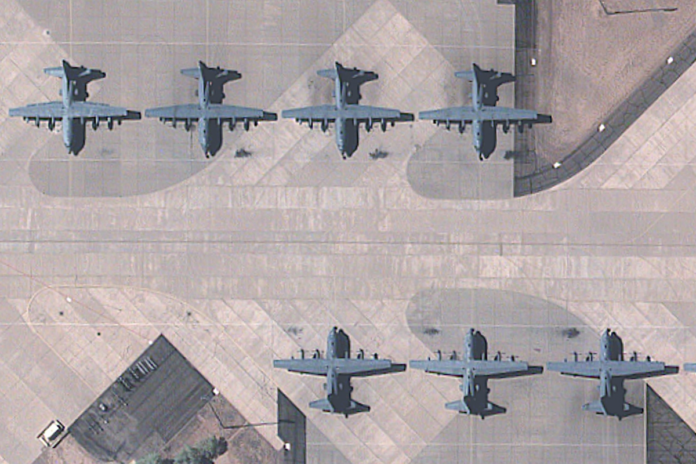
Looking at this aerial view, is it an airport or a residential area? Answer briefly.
airport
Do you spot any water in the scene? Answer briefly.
No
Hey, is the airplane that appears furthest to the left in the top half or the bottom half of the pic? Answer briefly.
top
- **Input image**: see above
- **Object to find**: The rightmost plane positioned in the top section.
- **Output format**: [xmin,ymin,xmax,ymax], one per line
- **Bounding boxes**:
[419,63,538,156]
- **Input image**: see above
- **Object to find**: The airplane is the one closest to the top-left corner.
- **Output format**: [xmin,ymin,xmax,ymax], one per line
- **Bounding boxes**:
[10,60,127,153]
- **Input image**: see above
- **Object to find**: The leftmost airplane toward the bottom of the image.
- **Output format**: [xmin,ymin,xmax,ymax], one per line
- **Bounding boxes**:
[273,327,392,414]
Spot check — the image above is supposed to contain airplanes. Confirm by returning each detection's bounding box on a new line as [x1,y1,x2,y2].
[683,363,696,372]
[283,61,400,154]
[419,63,538,156]
[273,327,392,414]
[10,60,127,153]
[409,328,529,414]
[546,329,666,416]
[145,62,264,154]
